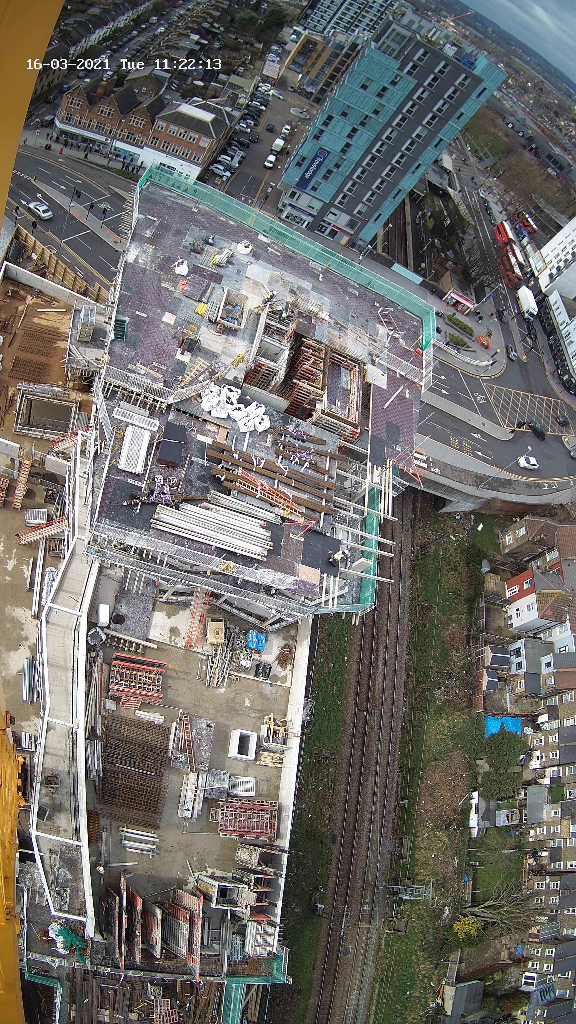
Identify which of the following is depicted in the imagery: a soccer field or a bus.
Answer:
bus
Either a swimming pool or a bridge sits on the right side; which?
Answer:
bridge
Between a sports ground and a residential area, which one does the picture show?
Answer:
residential area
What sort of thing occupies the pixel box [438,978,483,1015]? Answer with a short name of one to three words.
shed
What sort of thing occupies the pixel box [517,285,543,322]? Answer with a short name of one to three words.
truck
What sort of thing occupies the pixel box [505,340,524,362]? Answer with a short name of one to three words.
car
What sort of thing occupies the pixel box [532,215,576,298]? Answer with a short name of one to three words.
building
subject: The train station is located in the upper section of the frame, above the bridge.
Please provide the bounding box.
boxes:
[403,159,463,276]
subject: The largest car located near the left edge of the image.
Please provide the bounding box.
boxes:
[24,199,58,218]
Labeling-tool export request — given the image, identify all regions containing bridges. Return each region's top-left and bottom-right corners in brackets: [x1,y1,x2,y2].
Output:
[384,464,477,515]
